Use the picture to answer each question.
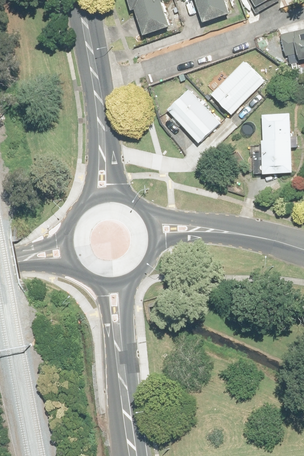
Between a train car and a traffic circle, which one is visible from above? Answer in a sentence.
Of the two, only a traffic circle appears.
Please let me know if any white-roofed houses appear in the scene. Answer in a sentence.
Yes, I can see a white-roofed house in this picture.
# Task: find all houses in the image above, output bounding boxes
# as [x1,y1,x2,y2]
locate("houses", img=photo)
[167,89,222,144]
[251,0,279,14]
[194,0,228,22]
[128,0,168,34]
[280,30,304,62]
[252,112,298,174]
[210,60,266,114]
